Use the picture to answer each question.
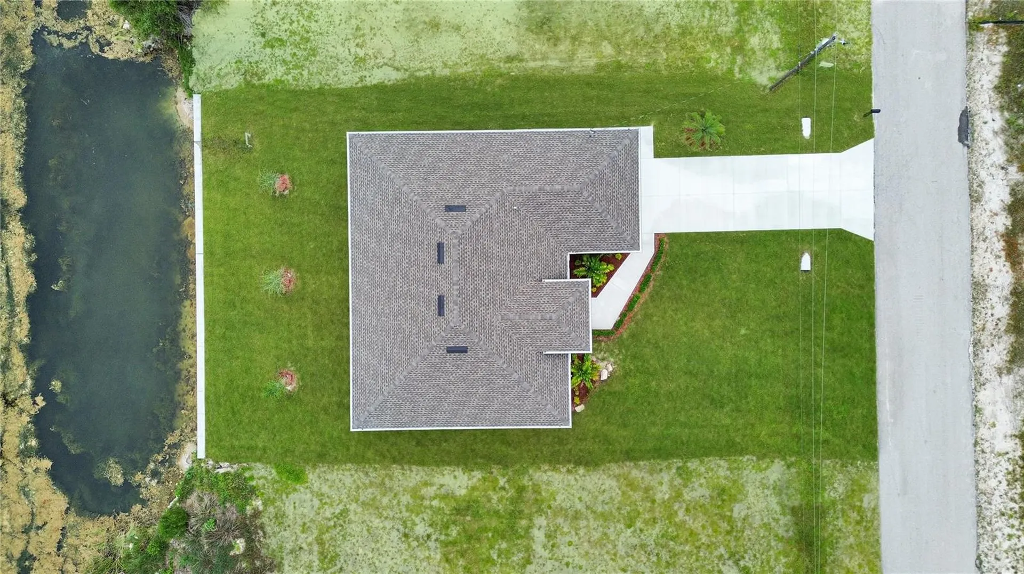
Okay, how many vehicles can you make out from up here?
0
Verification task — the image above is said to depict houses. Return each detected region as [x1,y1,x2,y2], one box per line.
[347,126,641,431]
